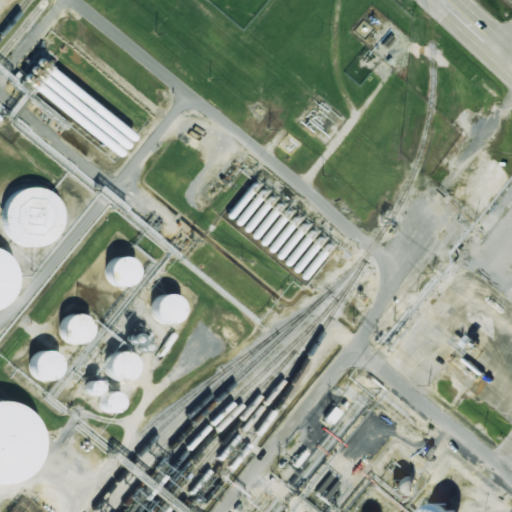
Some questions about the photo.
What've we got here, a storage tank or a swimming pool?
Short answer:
storage tank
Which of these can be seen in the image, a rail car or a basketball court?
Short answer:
rail car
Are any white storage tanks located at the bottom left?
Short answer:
Yes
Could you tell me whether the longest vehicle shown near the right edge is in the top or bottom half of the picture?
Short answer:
bottom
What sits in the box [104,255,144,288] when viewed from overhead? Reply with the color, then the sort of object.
white storage tank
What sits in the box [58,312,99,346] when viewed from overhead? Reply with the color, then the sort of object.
white storage tank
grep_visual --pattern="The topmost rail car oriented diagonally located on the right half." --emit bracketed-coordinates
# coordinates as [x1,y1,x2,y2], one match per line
[305,330,327,358]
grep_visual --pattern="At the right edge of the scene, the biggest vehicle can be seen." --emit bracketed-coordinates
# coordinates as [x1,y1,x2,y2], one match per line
[456,355,490,381]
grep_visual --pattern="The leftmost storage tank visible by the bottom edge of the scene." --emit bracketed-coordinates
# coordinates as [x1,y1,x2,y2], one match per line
[0,398,48,486]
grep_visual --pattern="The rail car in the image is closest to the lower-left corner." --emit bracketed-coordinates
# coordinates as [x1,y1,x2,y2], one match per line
[97,484,118,509]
